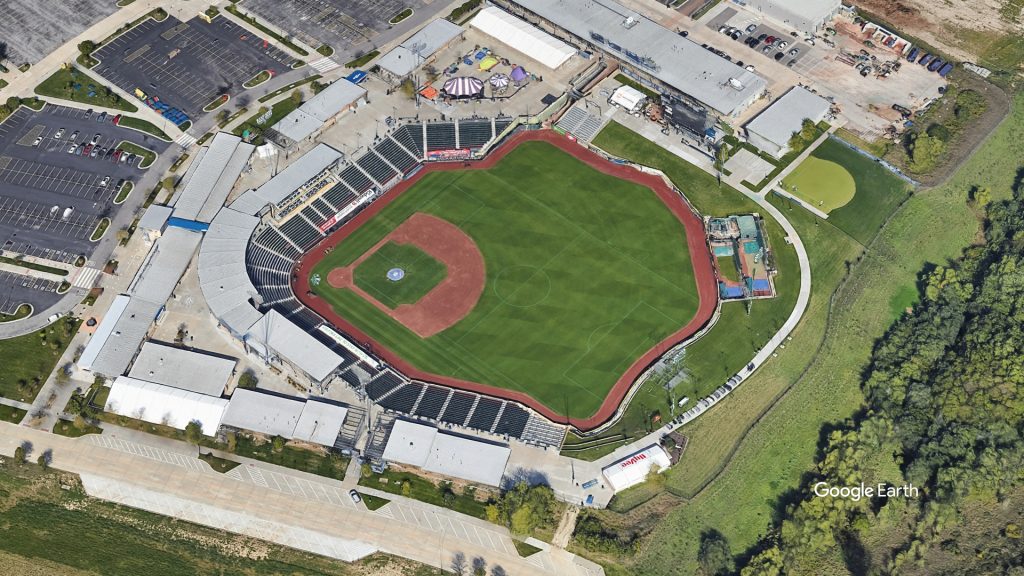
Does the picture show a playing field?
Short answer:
Yes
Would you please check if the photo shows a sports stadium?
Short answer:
Yes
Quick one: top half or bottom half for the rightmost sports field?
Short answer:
top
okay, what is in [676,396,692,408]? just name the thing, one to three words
vehicle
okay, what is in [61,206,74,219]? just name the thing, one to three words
vehicle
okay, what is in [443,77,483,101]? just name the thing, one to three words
tent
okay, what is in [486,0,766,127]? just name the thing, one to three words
building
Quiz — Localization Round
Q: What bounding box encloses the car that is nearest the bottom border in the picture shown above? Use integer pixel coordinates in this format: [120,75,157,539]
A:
[349,488,361,503]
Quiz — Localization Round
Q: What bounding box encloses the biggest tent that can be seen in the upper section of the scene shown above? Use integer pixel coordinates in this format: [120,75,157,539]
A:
[467,3,576,76]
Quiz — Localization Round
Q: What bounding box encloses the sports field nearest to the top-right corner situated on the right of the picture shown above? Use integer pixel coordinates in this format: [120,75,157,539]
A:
[772,132,921,247]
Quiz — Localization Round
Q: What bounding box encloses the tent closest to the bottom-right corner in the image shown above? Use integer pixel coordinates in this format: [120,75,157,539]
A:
[595,441,671,497]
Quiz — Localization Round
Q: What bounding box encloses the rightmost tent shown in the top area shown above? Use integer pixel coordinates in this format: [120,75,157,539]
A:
[611,87,644,114]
